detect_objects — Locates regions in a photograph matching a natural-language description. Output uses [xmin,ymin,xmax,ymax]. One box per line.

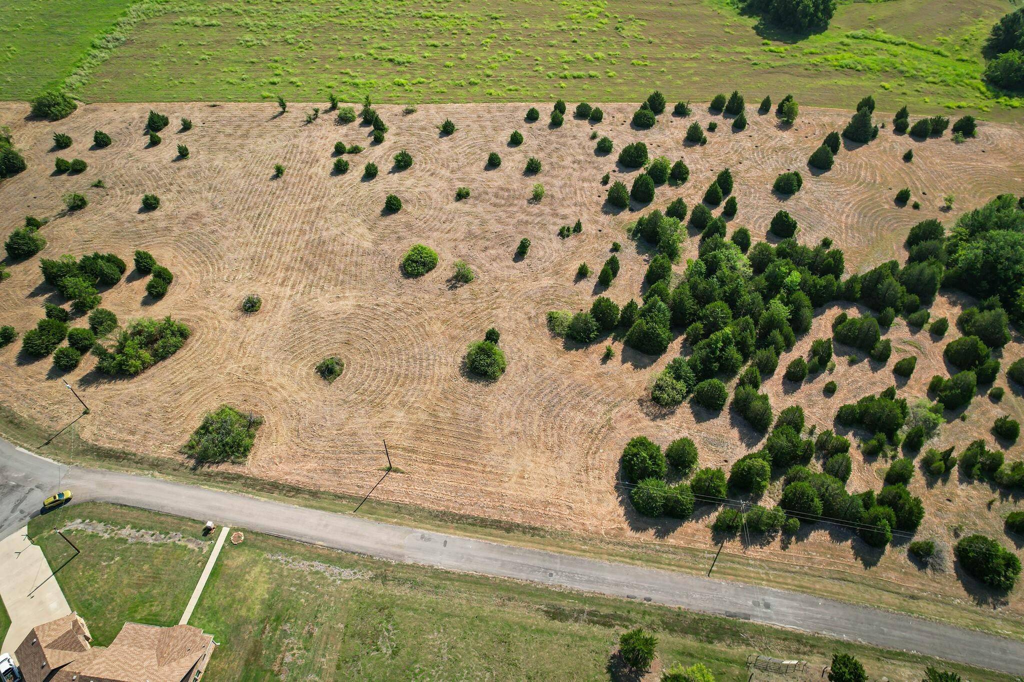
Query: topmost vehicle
[42,491,73,511]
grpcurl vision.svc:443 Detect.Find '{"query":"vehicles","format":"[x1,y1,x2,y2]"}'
[0,655,23,682]
[42,491,73,511]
